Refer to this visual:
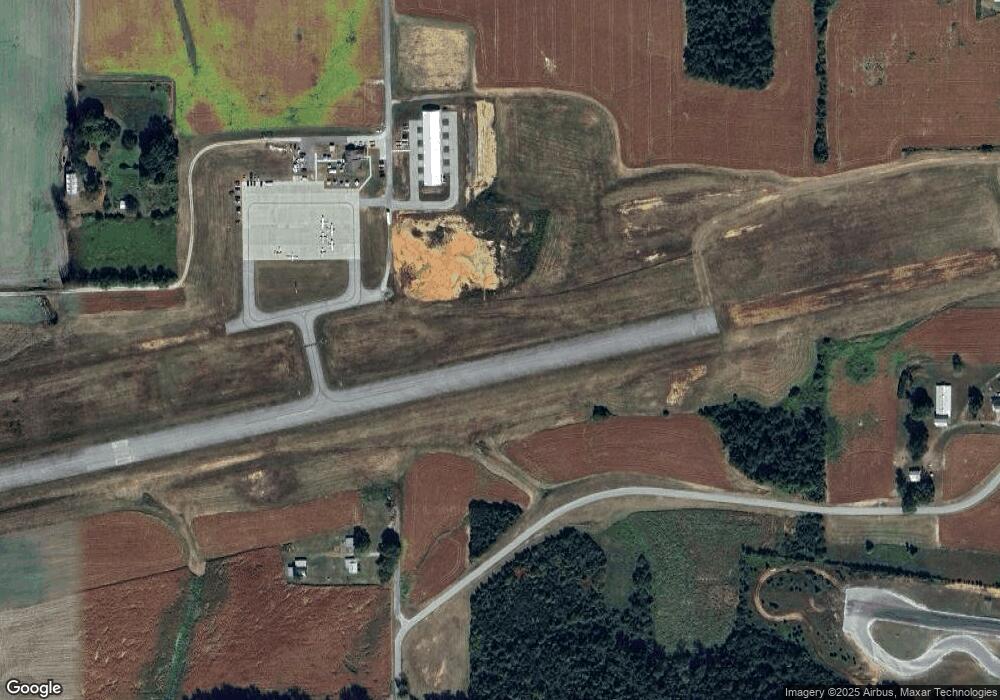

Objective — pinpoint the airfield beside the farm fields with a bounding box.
[0,112,719,491]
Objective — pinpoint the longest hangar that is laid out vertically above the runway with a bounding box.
[423,111,443,189]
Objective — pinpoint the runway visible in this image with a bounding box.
[0,309,719,491]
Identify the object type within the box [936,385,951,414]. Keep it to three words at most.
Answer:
barn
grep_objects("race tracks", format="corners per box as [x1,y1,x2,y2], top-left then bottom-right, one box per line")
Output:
[843,587,1000,679]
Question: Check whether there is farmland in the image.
Yes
